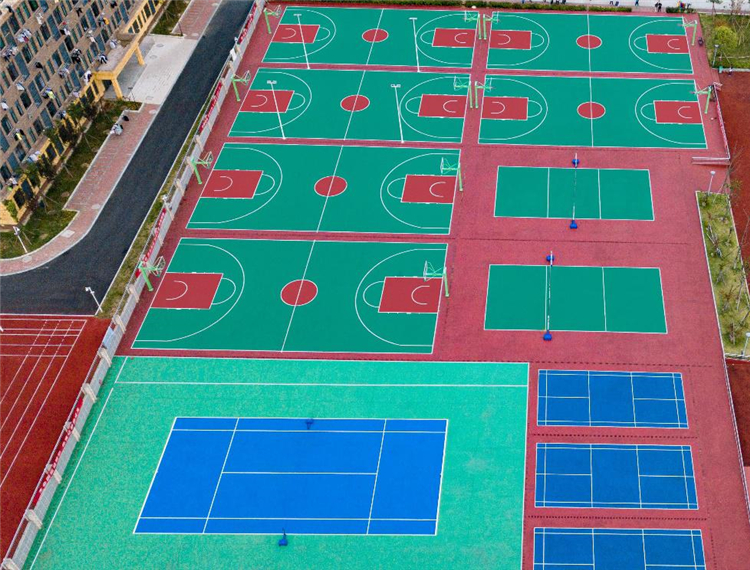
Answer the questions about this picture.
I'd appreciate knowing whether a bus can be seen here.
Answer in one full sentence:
No, I can see no bus in this picture.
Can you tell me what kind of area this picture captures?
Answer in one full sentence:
What you see here is a sports ground.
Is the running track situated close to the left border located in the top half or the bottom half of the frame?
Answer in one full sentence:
You can find the running track situated close to the left border in the bottom half.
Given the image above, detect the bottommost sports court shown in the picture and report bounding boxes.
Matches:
[534,528,705,570]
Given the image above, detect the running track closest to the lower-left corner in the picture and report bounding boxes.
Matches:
[0,316,114,570]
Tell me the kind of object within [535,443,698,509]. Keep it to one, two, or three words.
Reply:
sports court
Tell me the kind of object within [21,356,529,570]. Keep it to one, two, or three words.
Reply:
tennis court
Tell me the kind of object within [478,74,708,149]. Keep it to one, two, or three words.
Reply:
basketball court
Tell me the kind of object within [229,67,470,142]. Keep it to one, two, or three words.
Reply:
basketball court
